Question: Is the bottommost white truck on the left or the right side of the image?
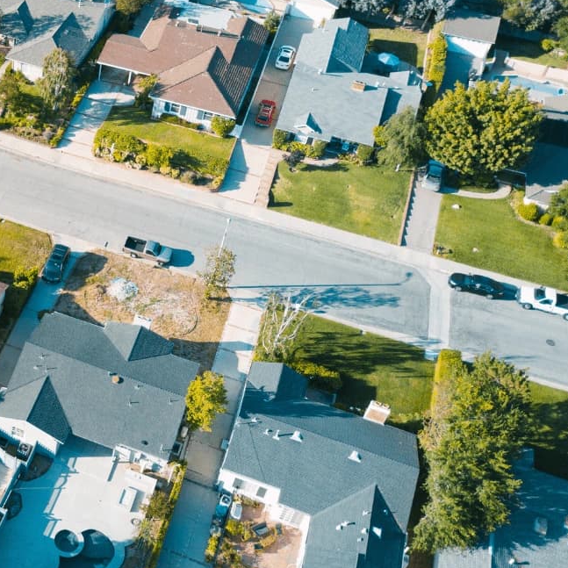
right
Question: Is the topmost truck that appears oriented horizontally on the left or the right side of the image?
left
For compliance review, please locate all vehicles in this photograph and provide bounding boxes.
[273,43,297,71]
[449,276,506,303]
[37,241,74,286]
[520,289,568,321]
[254,97,279,129]
[419,153,447,193]
[119,235,176,267]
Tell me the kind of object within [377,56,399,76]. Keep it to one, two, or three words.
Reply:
umbrella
